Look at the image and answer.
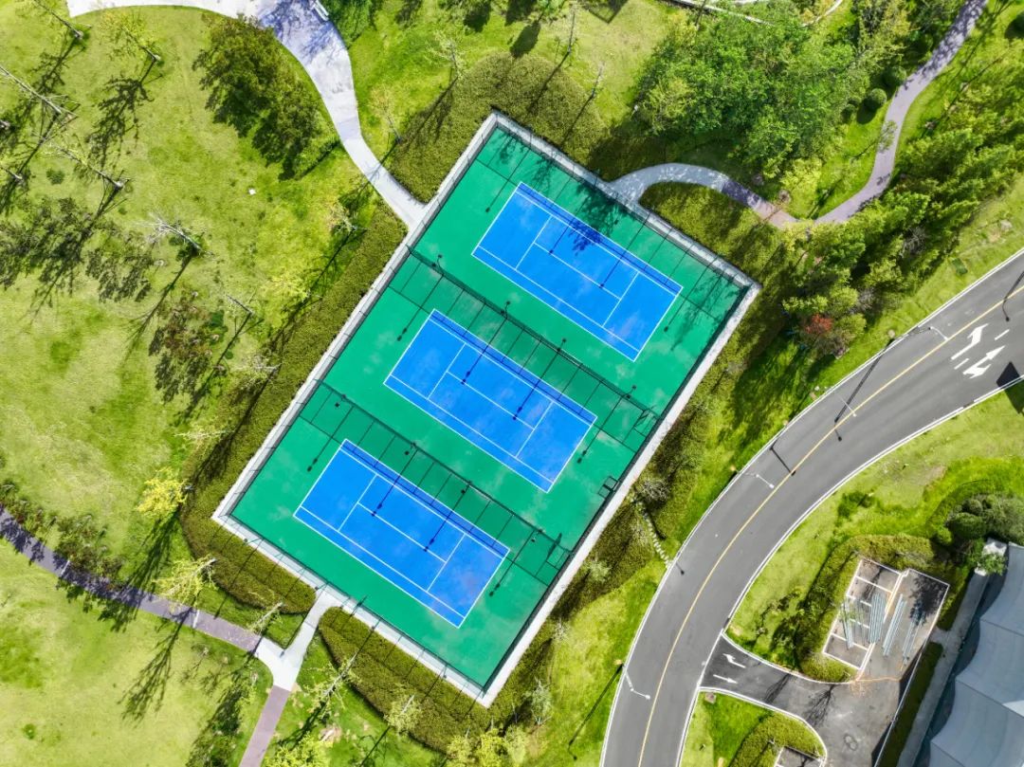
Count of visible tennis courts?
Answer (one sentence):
I count 3 tennis courts.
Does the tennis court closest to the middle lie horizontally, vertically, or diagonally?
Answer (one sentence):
I'd say the tennis court closest to the middle is aligned diagonally in the picture.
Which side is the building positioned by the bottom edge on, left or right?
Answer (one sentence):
It is on the right.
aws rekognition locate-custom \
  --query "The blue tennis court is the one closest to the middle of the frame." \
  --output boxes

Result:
[384,309,597,493]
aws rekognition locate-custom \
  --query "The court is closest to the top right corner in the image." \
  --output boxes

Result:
[472,182,682,361]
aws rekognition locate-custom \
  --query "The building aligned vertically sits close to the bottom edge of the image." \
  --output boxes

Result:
[906,543,1024,767]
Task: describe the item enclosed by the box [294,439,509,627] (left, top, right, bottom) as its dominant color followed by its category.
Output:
blue tennis court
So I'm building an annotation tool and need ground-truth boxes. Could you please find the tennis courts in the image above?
[384,309,597,493]
[472,182,682,361]
[294,439,509,627]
